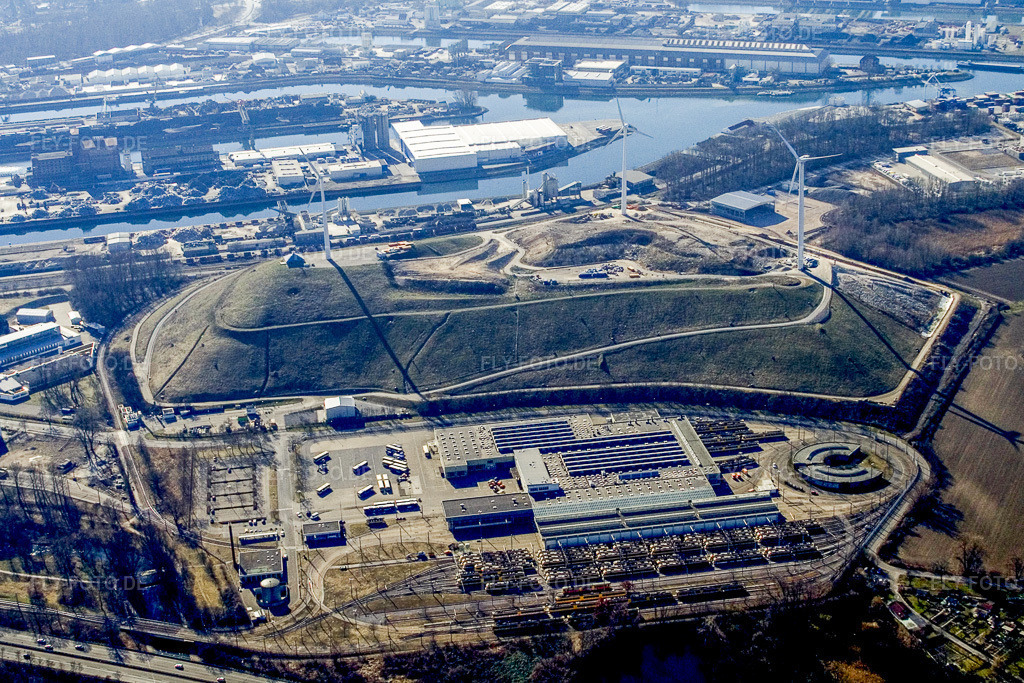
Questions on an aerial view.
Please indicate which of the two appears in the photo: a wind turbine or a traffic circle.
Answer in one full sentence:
The image shows a wind turbine.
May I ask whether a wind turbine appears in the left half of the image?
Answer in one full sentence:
Yes, looking in the left half of the image, one can make out a wind turbine.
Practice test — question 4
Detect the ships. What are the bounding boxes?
[955,59,1023,71]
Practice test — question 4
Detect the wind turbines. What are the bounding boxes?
[777,122,848,269]
[604,99,650,214]
[299,151,354,262]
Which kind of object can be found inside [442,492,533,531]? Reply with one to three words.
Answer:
shed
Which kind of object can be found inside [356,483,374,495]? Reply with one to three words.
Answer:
vehicle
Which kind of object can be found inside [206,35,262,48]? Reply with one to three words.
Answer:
building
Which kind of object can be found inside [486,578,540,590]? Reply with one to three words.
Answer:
train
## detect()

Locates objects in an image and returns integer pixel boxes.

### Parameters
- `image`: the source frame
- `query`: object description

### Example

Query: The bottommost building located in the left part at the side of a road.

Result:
[239,548,284,589]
